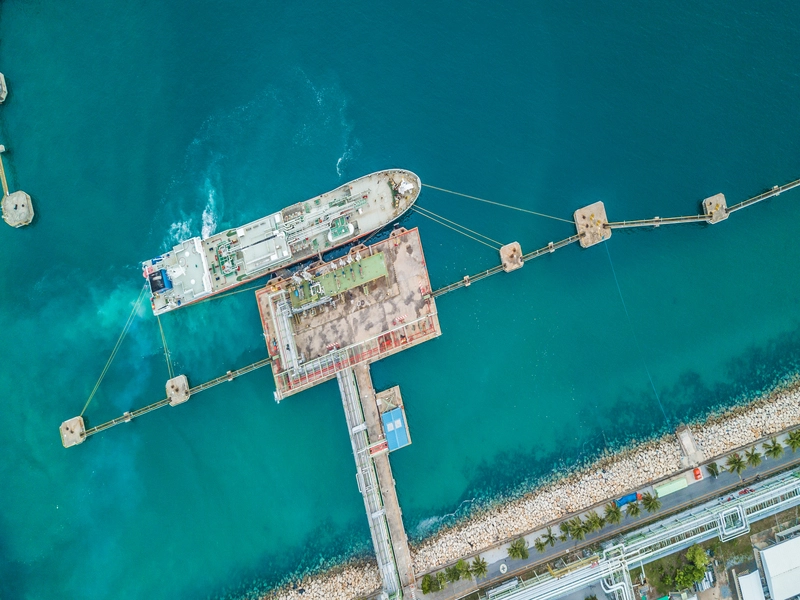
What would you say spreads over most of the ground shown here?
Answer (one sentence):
What you mostly see from above here is water.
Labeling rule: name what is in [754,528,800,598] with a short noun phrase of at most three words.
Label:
building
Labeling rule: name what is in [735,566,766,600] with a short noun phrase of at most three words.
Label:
shed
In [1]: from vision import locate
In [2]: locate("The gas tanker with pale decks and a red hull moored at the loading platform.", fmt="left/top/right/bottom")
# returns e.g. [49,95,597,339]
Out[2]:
[141,168,421,316]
